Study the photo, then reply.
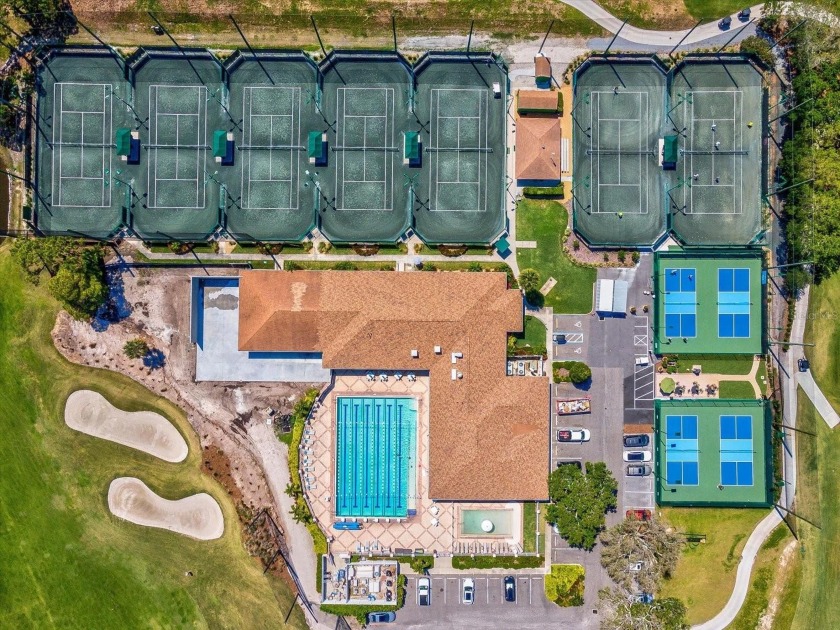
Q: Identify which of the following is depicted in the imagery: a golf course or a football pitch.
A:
golf course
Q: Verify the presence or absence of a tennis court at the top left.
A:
Yes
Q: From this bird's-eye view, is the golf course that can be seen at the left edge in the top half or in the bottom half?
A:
bottom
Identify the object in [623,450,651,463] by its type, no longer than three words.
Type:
vehicle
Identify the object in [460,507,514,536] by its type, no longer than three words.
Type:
swimming pool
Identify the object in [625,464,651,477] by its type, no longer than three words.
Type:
vehicle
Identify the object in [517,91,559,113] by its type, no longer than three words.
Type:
building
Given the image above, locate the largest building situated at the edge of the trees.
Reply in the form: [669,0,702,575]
[238,271,548,500]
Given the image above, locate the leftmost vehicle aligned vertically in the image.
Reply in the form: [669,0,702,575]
[418,576,431,606]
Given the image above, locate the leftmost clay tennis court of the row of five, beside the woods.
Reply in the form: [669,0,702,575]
[43,52,134,238]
